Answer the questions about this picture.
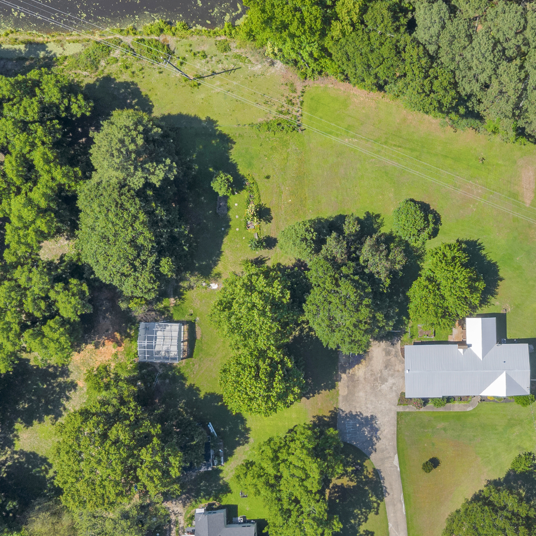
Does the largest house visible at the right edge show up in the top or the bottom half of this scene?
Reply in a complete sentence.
Seen from above, the largest house visible at the right edge lies in the bottom half of the view.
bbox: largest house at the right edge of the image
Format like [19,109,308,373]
[404,317,531,398]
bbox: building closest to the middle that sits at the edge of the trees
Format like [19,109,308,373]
[137,322,193,362]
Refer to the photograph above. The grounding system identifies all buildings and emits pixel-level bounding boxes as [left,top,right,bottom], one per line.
[137,322,193,362]
[186,505,259,536]
[404,317,531,398]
